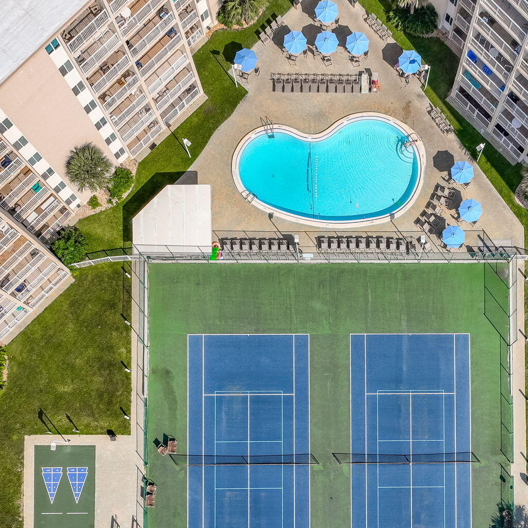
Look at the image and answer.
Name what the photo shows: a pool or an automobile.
pool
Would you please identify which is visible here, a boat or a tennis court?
tennis court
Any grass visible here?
Yes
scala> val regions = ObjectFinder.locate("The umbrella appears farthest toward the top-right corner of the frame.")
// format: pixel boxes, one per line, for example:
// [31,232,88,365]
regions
[398,53,421,79]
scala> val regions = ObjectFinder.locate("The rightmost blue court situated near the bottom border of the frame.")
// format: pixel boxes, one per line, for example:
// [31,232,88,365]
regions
[351,334,471,528]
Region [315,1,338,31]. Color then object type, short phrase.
blue umbrella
